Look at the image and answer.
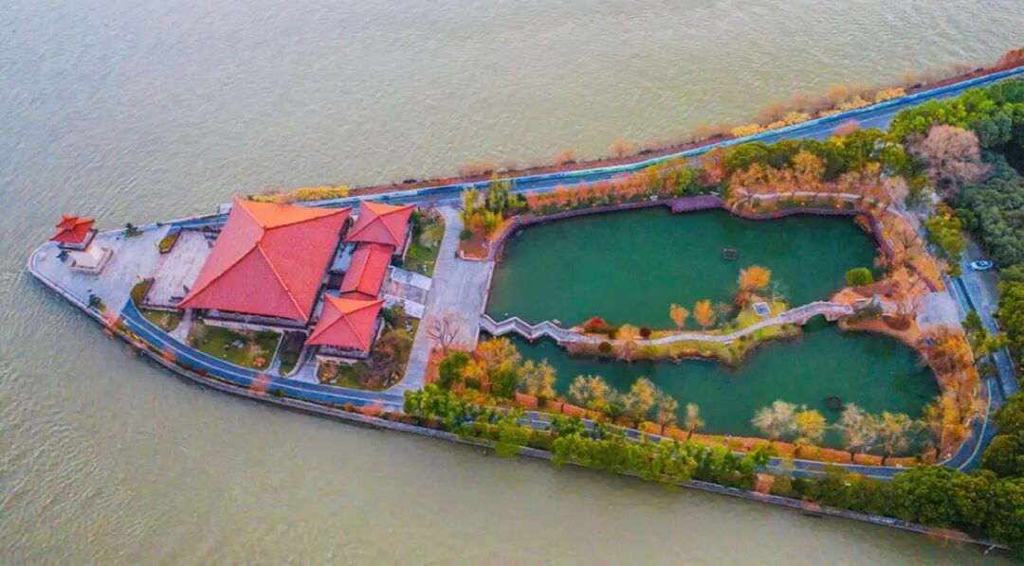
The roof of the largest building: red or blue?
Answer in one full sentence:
The color of the roof of the largest building is red.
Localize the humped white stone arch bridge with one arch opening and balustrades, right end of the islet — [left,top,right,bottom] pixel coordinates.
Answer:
[776,299,858,323]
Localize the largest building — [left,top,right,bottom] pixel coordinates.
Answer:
[172,194,353,333]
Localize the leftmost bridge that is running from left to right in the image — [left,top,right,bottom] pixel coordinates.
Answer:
[478,314,577,344]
